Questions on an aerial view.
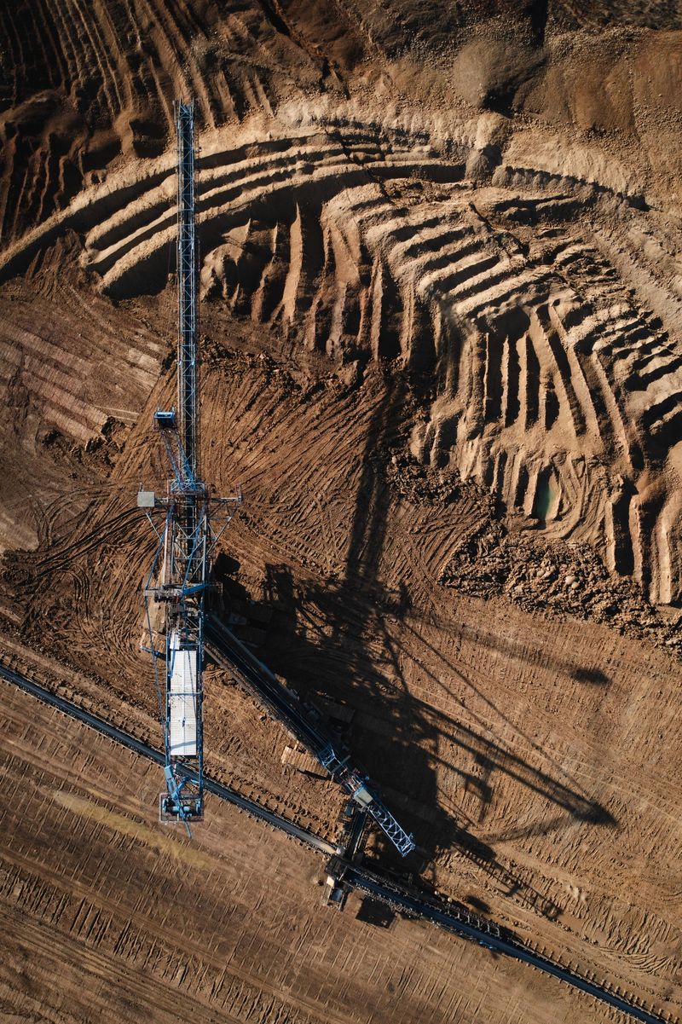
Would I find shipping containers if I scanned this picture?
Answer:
No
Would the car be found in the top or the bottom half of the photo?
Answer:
bottom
